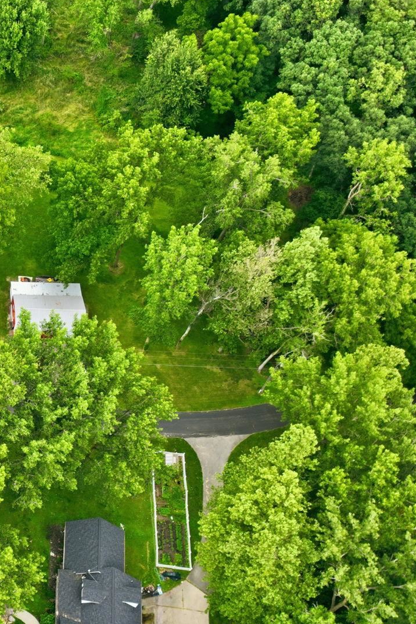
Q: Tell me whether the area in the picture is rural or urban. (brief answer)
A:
rural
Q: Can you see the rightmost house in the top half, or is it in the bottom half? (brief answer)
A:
bottom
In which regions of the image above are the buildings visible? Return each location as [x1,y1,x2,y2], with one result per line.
[51,518,146,624]
[8,282,88,329]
